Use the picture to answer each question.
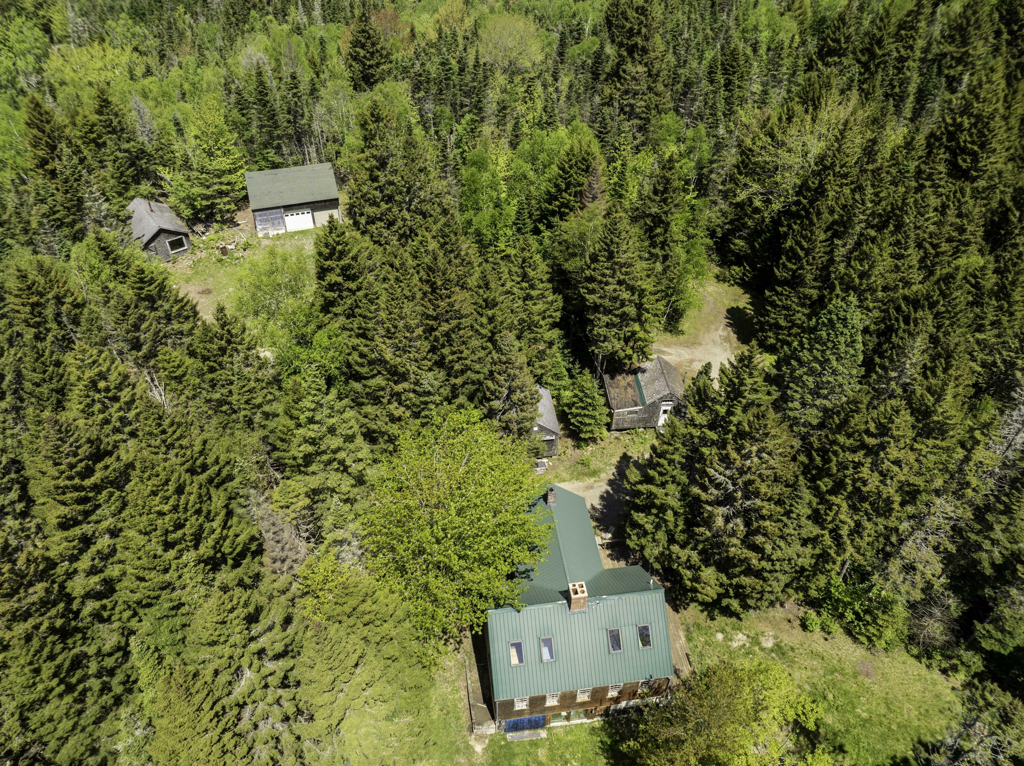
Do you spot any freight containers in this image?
No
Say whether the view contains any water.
No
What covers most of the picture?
trees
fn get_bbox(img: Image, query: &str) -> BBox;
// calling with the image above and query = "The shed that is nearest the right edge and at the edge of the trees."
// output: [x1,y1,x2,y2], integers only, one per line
[604,356,688,432]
